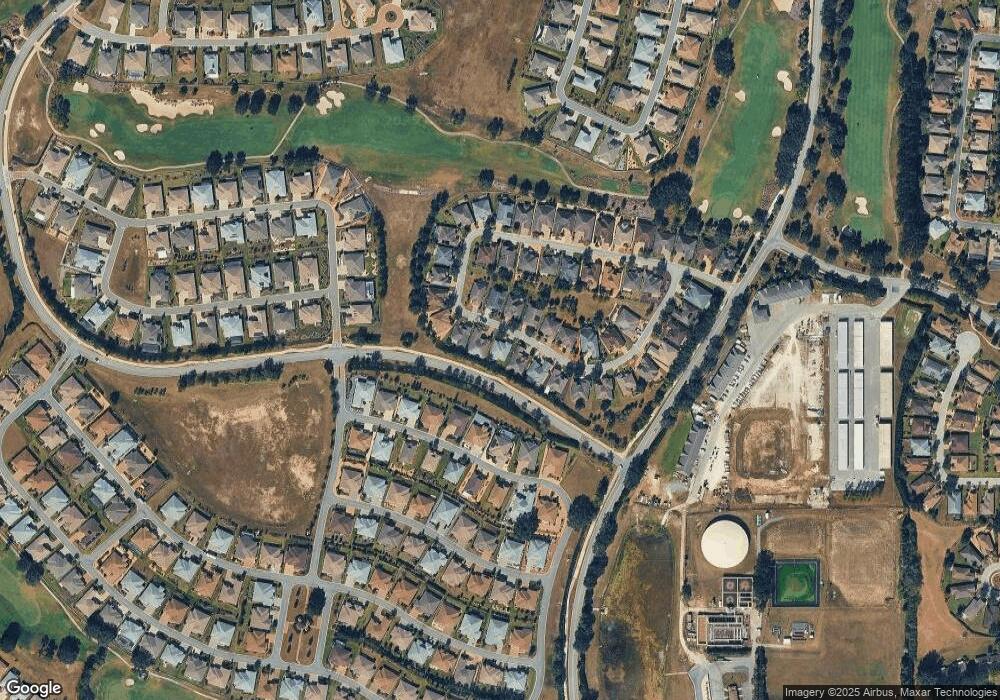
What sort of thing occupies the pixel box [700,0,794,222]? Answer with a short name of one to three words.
golf course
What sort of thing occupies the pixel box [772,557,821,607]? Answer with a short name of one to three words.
pond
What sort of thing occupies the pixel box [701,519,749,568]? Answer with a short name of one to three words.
storage tank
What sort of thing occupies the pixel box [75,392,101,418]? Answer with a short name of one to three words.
house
